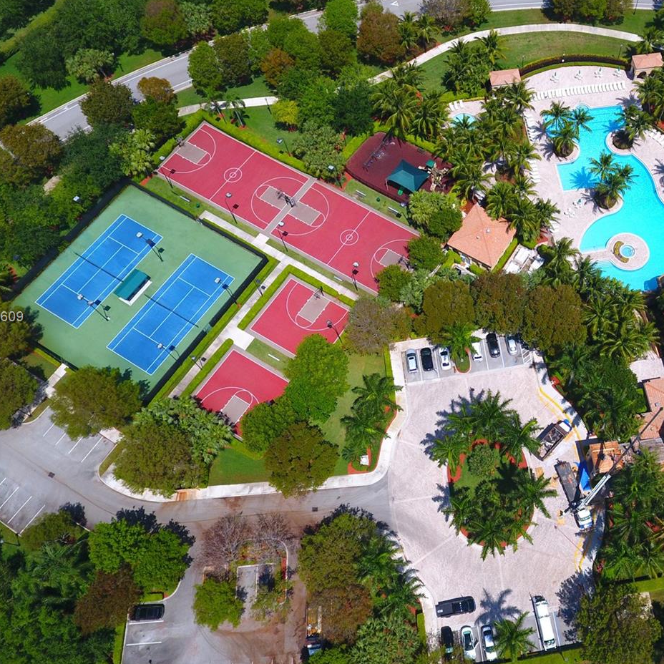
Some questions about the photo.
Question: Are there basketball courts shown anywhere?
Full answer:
Yes, looking at the shot, I can spot a basketball court.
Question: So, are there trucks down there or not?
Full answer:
Yes, I can see a truck in this picture.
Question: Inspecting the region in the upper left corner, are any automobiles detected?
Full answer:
No, no automobile appears in the upper left corner.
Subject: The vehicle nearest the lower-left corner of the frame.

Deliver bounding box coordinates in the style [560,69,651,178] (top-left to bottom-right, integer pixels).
[133,604,167,622]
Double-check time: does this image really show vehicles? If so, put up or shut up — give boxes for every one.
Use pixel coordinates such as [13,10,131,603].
[419,348,434,373]
[504,333,521,357]
[440,625,454,654]
[303,624,323,664]
[467,333,486,366]
[530,596,558,648]
[458,625,476,658]
[484,333,501,358]
[438,347,452,370]
[481,627,495,660]
[556,406,664,533]
[537,420,576,464]
[133,604,167,622]
[405,348,420,373]
[439,597,474,615]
